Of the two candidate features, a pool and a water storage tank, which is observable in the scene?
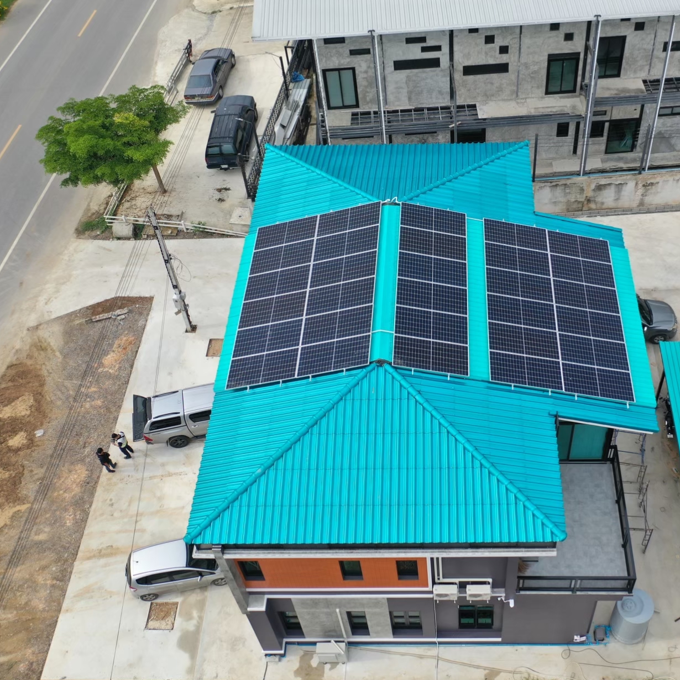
water storage tank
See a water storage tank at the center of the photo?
No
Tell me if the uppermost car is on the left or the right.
left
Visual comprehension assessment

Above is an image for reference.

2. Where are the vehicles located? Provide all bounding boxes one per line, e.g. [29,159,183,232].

[637,293,680,345]
[186,45,236,103]
[126,535,224,601]
[128,383,220,449]
[207,96,260,166]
